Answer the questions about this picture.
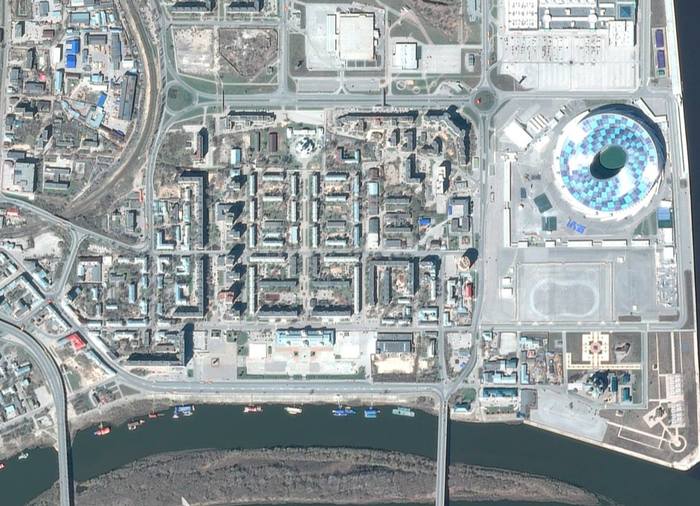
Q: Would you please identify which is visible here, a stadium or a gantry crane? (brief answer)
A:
stadium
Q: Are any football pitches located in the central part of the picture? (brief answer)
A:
No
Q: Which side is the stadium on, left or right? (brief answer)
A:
right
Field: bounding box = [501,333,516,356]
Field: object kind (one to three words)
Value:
building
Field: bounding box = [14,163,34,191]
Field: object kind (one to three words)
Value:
building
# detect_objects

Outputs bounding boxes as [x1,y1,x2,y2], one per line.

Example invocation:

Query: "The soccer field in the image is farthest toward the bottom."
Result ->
[591,142,628,179]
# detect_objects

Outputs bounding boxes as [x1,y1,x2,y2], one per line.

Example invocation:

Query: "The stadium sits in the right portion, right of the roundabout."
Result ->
[550,103,669,221]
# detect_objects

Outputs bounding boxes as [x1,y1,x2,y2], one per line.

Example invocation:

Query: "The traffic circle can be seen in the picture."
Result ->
[470,84,500,116]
